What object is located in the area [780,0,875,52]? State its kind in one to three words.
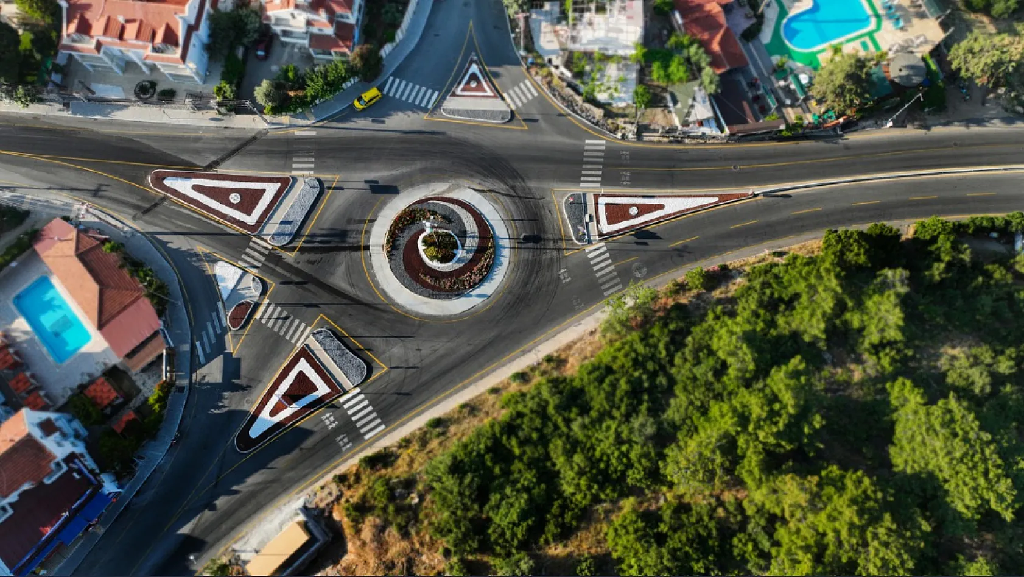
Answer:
swimming pool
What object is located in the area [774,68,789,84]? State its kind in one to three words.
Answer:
umbrella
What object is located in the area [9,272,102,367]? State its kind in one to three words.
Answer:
swimming pool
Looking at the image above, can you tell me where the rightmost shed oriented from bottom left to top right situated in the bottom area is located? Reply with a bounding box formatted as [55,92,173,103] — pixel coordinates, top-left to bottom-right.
[246,519,314,577]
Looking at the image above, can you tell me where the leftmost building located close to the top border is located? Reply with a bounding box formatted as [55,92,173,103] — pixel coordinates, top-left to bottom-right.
[58,0,225,89]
